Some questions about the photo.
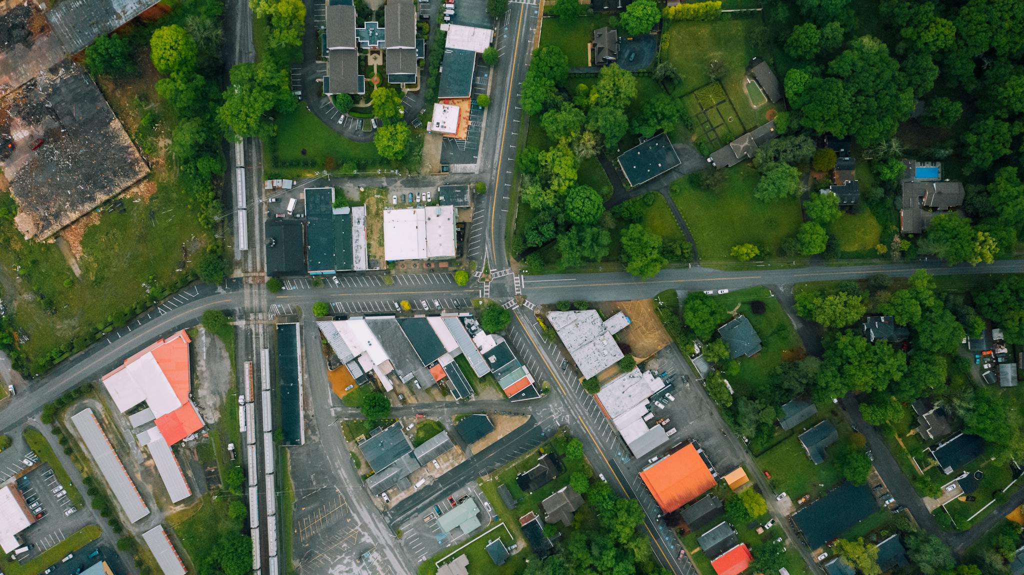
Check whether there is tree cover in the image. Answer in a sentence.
Yes, there's tree cover in this view.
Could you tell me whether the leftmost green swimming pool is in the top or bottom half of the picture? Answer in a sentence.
You can find the leftmost green swimming pool in the top half.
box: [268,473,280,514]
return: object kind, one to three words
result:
rail car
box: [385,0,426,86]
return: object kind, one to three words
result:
building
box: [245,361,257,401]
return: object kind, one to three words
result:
rail car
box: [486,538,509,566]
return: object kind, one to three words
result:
house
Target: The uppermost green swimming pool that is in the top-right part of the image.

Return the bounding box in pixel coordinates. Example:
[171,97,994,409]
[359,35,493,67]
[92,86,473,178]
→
[746,78,768,107]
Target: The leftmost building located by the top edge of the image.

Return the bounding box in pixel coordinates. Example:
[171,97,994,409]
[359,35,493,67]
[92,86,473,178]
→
[46,0,178,61]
